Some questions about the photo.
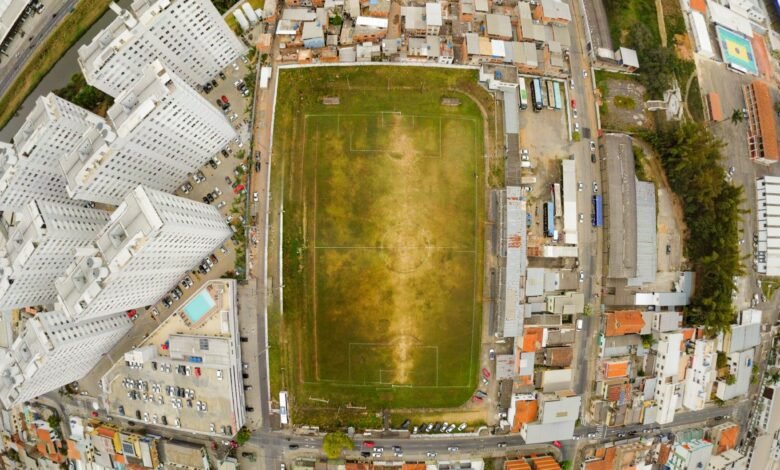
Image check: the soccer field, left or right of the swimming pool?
to the right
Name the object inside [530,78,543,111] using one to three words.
vehicle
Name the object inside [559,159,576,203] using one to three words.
shed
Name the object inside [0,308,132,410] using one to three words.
building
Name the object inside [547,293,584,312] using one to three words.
house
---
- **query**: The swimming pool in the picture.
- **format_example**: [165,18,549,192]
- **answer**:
[177,282,222,328]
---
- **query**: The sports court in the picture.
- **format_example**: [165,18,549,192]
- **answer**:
[718,25,762,74]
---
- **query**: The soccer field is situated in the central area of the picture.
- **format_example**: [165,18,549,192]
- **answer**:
[268,66,497,432]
